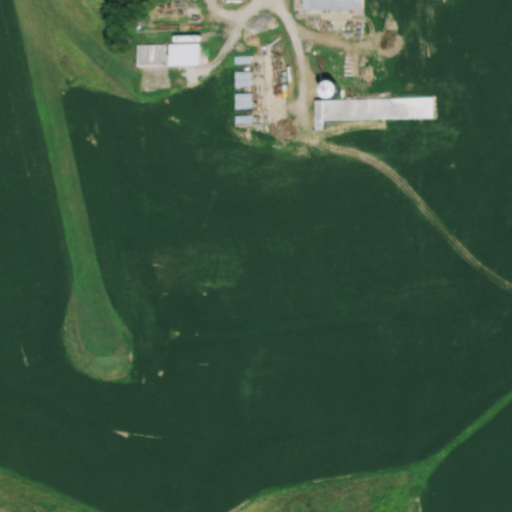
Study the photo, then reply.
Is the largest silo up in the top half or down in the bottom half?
top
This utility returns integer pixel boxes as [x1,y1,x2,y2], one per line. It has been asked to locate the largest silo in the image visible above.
[317,80,340,100]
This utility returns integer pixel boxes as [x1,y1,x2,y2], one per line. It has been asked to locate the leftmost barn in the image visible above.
[137,45,168,68]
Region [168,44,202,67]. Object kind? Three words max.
shed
